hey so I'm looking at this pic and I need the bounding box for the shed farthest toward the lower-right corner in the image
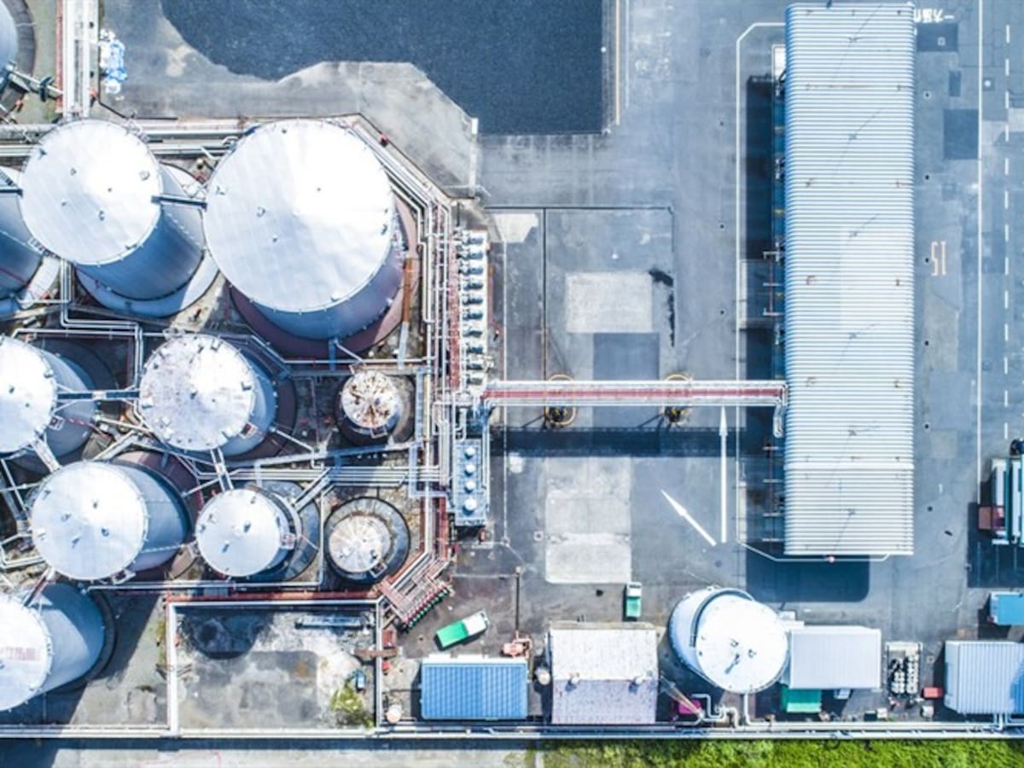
[934,640,1024,714]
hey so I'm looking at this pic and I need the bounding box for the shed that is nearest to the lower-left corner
[418,651,531,720]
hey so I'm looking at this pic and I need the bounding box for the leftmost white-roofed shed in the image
[549,620,658,724]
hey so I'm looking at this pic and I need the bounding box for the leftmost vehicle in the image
[431,605,492,651]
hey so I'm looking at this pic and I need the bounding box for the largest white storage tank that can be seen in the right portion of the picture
[666,586,791,694]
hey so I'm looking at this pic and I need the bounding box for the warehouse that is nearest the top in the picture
[773,0,914,562]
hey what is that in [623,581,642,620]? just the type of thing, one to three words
vehicle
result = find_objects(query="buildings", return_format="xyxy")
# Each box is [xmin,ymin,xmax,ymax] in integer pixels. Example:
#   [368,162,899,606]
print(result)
[418,651,531,720]
[773,0,914,562]
[549,620,658,724]
[934,640,1024,714]
[779,611,882,691]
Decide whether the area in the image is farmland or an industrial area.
industrial area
